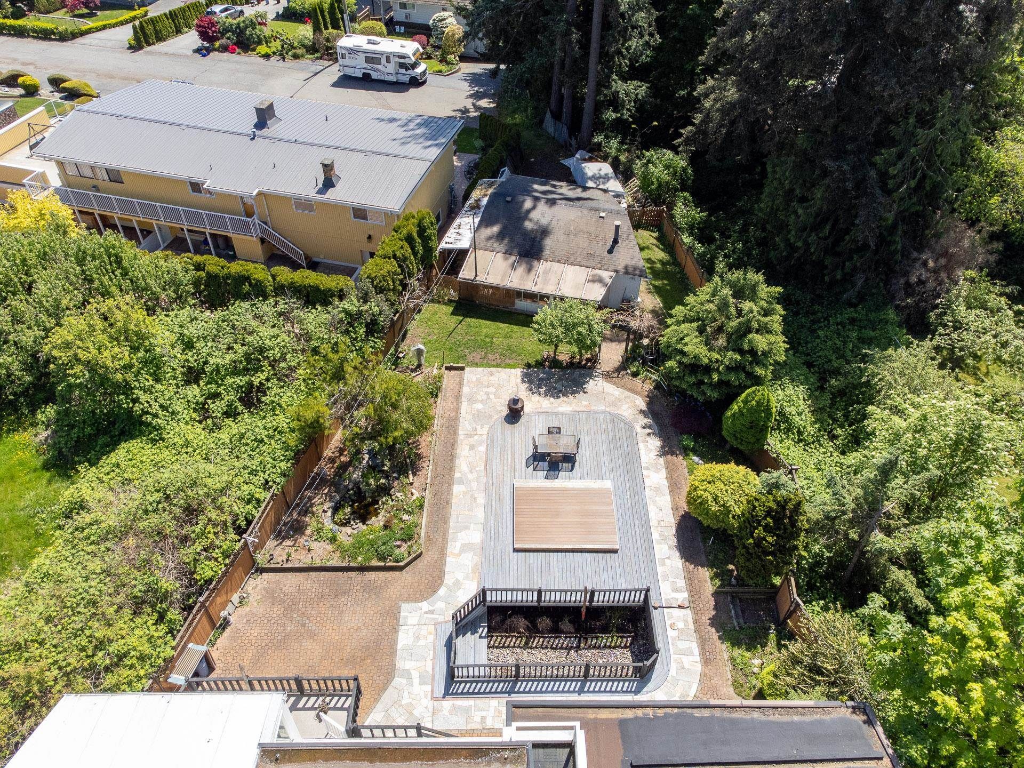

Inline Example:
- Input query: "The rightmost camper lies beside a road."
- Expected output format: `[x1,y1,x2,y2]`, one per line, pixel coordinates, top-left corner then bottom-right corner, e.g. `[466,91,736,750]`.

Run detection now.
[332,29,434,84]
